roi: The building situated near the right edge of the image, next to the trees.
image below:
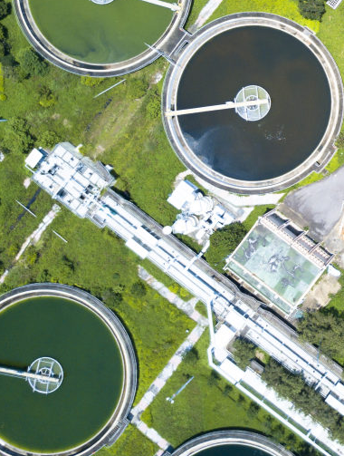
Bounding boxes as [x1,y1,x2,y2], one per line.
[221,209,332,315]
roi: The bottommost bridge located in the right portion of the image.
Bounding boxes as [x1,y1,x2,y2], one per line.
[160,98,266,120]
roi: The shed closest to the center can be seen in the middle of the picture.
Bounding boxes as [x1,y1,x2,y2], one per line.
[167,179,202,209]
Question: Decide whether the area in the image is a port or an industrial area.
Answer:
industrial area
